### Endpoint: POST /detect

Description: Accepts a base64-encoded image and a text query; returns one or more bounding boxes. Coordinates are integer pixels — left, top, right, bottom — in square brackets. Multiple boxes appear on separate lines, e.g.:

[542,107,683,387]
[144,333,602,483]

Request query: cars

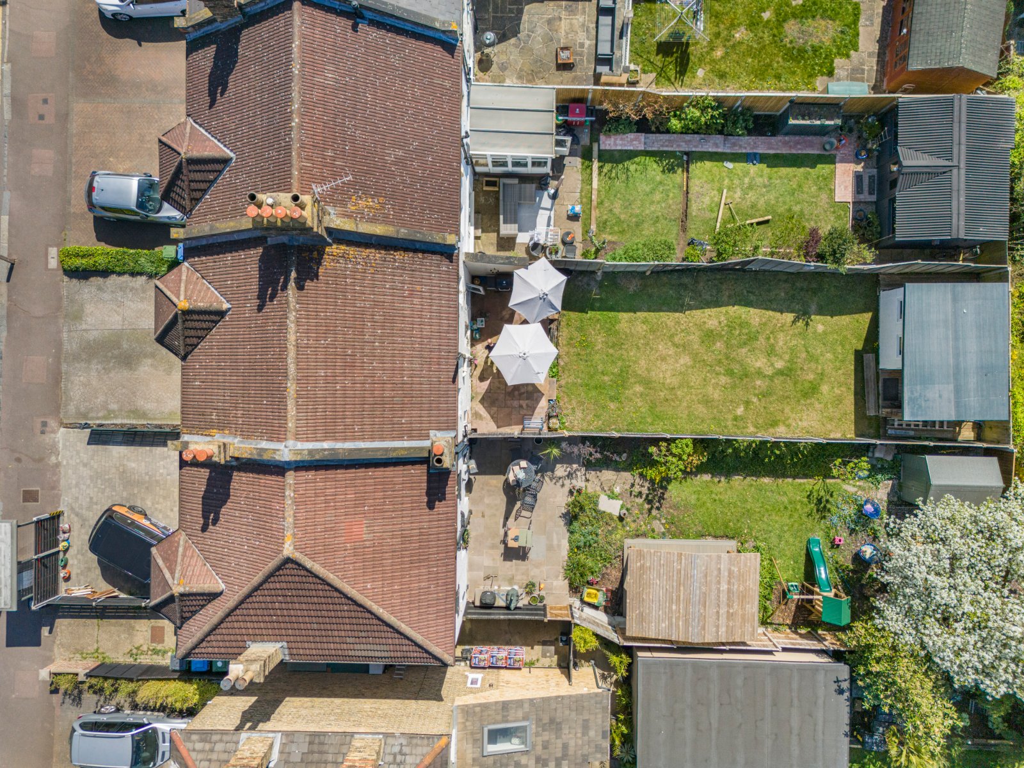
[75,704,192,768]
[90,0,182,22]
[82,172,179,230]
[88,502,175,579]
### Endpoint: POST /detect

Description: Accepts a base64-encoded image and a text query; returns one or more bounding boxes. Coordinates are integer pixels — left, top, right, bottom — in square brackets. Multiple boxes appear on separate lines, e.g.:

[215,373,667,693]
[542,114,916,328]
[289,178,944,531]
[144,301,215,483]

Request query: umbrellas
[490,324,558,385]
[509,258,567,322]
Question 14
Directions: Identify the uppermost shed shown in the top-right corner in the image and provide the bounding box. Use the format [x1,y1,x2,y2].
[885,0,1001,93]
